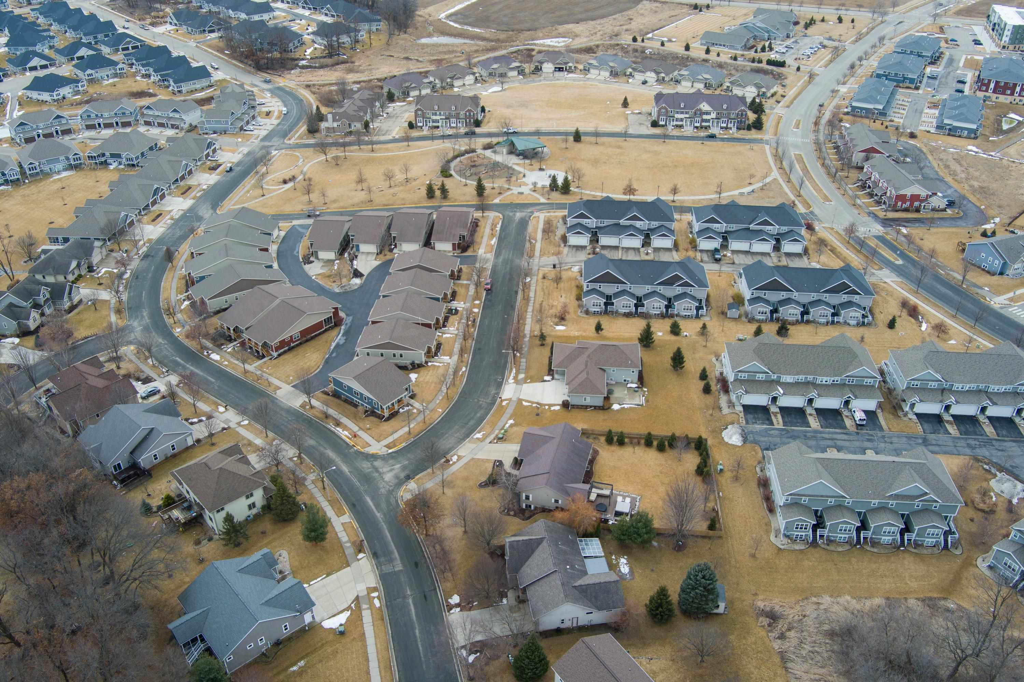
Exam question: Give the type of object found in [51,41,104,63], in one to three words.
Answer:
house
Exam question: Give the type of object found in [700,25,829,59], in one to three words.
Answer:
building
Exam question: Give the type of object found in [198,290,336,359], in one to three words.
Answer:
house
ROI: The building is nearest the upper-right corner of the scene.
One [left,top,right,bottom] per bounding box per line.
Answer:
[969,2,1024,54]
